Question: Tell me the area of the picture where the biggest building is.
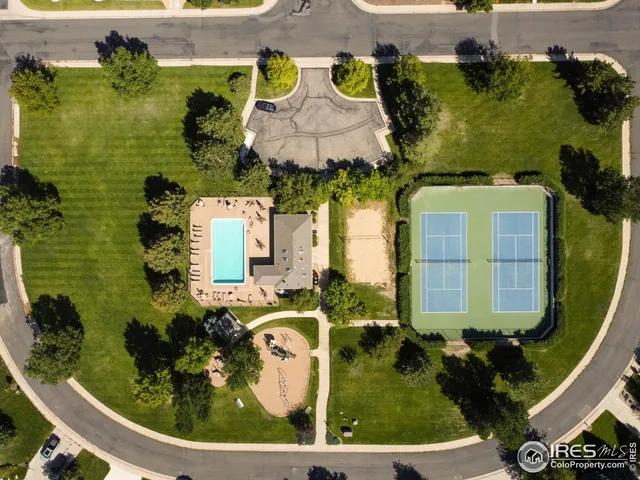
center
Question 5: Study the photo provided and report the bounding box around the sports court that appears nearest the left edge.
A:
[341,197,401,303]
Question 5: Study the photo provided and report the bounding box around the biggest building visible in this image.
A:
[254,214,312,289]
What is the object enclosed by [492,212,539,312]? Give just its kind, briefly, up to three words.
tennis court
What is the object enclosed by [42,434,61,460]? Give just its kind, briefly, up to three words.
vehicle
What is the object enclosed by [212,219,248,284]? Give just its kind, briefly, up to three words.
swimming pool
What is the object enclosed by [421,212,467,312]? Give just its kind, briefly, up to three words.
tennis court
